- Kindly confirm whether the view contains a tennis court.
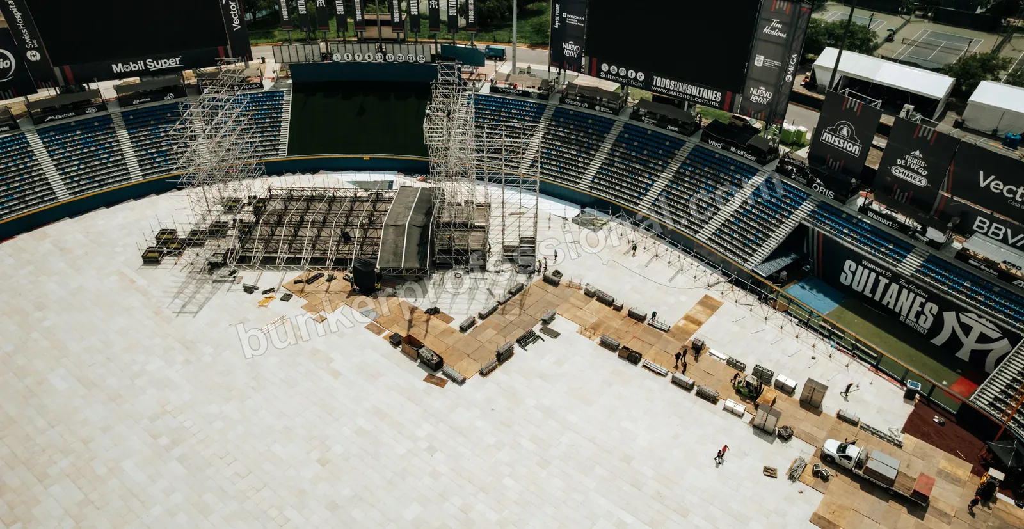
Yes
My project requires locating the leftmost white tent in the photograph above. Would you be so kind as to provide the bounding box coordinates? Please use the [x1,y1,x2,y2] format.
[808,44,963,119]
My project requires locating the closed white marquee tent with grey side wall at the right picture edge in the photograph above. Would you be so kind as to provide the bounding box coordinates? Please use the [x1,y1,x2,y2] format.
[965,80,1024,142]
